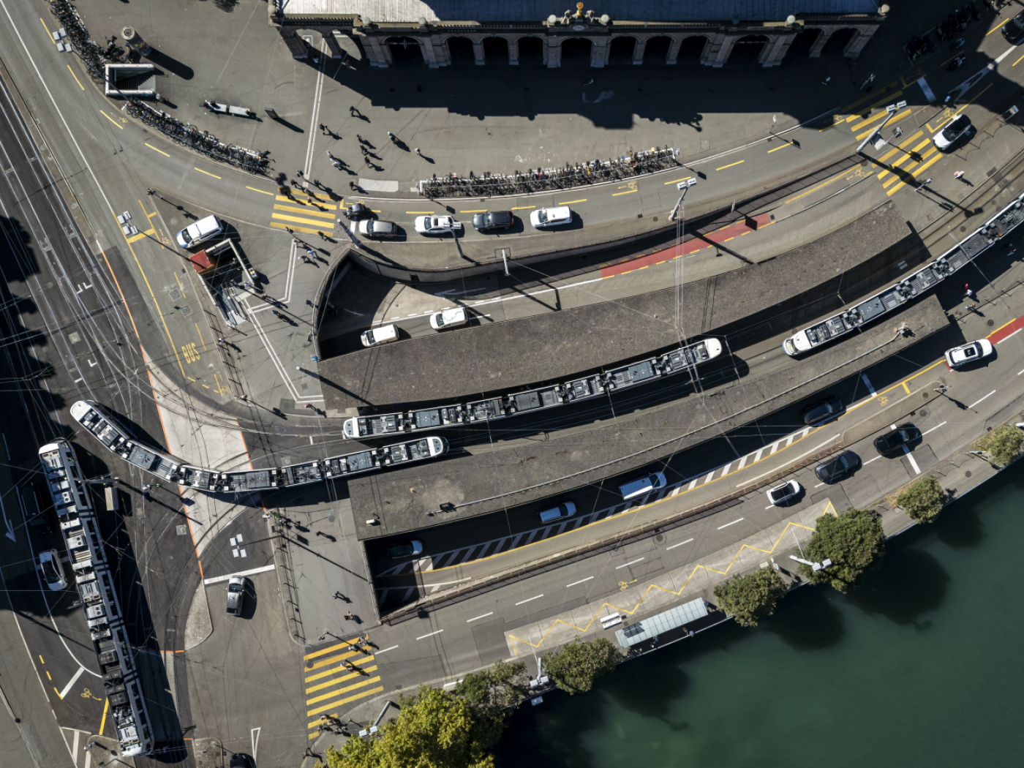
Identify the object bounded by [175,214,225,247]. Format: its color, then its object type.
white vehicle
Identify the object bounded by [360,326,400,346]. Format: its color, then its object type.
white vehicle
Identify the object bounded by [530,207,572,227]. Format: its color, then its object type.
white car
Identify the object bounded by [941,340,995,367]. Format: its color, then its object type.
white car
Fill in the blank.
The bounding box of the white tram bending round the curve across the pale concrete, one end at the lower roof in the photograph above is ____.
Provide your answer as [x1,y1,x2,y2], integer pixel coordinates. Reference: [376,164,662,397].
[74,402,451,491]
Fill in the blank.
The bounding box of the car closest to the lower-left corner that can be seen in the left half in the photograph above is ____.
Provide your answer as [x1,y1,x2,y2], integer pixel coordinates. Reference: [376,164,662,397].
[37,547,67,592]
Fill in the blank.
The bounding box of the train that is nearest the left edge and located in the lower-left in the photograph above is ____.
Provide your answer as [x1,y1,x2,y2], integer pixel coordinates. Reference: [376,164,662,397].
[42,441,154,754]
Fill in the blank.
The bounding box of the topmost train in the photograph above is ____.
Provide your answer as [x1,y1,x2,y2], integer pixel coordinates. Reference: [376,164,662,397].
[775,194,1024,359]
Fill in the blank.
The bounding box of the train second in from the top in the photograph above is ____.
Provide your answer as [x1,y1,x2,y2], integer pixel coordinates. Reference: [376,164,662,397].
[347,336,721,438]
